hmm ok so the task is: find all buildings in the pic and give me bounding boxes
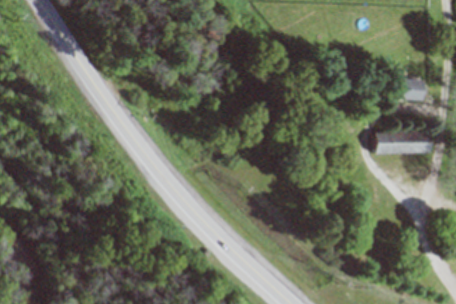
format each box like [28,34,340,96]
[376,130,434,154]
[404,76,428,101]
